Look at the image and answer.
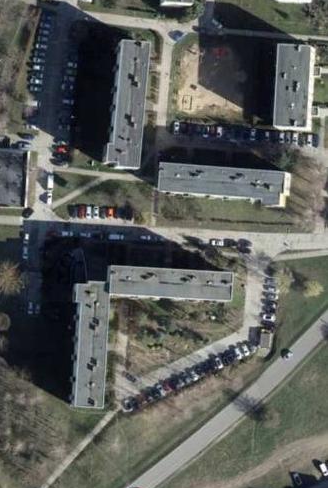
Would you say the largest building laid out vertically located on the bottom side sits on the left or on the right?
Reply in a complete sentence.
You can find the largest building laid out vertically located on the bottom side on the left side of the picture.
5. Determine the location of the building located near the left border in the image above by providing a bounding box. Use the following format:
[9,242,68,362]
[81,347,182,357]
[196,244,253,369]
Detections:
[0,148,28,207]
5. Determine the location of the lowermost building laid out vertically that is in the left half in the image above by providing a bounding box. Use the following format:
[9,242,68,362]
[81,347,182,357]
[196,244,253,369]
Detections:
[72,283,113,410]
